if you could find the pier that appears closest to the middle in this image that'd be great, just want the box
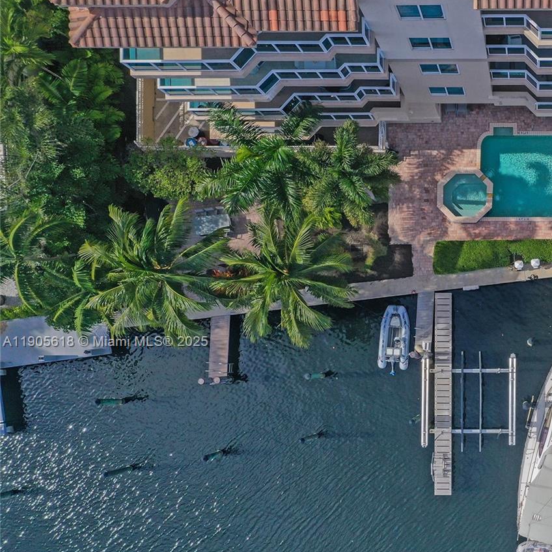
[204,316,244,378]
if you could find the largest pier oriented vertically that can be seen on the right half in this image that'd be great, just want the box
[434,293,452,495]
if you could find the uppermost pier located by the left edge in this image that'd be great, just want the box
[0,328,121,368]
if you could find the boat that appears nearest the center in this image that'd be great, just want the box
[378,304,410,374]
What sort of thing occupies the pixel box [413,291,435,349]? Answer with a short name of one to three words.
pier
